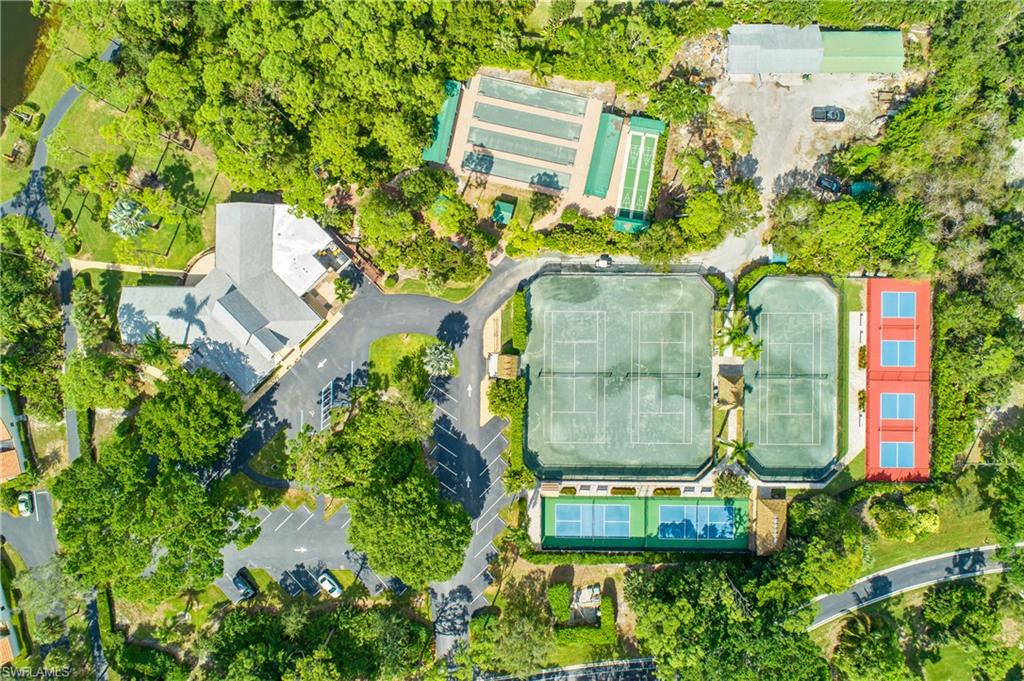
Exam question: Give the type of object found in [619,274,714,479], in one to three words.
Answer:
tennis court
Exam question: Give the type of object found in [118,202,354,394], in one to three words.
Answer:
building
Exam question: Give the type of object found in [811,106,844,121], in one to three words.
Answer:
vehicle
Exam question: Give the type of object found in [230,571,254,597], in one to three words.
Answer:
car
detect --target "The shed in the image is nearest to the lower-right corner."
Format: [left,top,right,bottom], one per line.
[754,497,789,556]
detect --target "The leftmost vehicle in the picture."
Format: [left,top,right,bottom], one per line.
[19,491,35,517]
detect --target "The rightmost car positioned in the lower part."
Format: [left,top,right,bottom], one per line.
[318,572,342,597]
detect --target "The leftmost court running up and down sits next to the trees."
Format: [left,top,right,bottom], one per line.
[525,274,619,479]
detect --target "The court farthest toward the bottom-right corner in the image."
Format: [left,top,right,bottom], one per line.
[866,380,931,481]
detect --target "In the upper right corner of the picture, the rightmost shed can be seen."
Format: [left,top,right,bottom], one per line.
[821,31,903,73]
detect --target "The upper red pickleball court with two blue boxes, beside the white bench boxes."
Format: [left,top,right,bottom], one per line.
[867,278,931,380]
